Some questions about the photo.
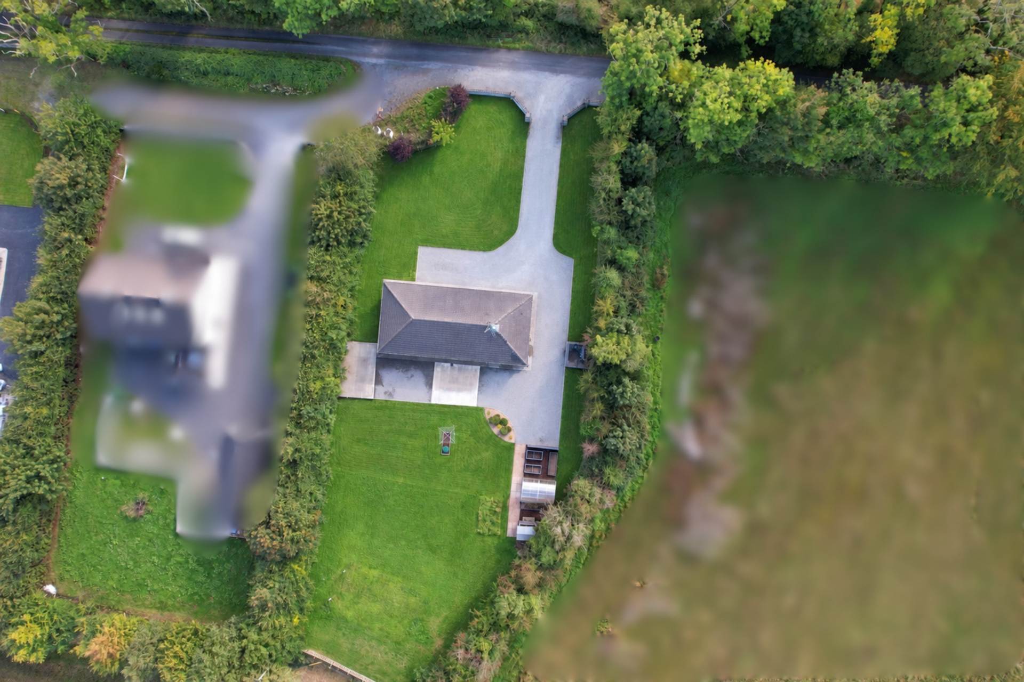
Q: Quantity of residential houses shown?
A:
2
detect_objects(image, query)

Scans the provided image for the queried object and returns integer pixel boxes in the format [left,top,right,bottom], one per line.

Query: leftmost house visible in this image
[75,243,212,345]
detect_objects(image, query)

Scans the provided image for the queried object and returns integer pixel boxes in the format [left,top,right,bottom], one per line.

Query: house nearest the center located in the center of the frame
[376,280,535,368]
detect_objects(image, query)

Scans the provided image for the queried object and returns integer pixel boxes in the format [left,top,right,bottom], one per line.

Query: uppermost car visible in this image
[162,227,202,246]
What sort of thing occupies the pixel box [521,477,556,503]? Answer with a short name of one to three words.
greenhouse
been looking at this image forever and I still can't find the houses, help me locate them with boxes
[376,280,535,368]
[75,243,212,345]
